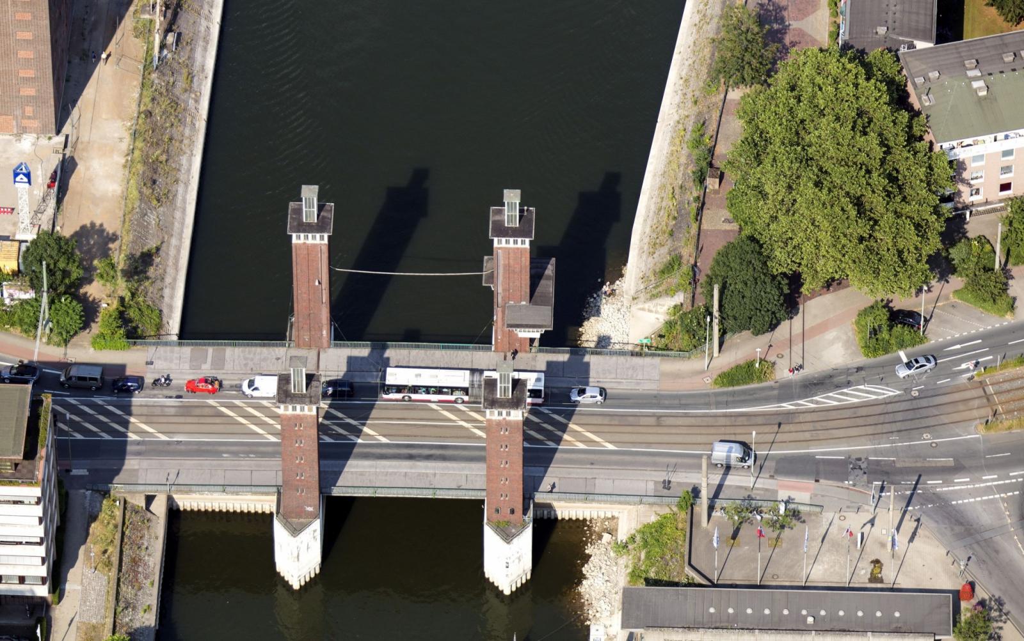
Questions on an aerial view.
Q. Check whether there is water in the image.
Yes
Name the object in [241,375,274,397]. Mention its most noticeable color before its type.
white vehicle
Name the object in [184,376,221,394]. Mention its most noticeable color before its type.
red car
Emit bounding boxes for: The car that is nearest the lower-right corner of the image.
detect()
[895,353,938,379]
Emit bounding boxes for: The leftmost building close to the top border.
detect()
[0,0,72,134]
